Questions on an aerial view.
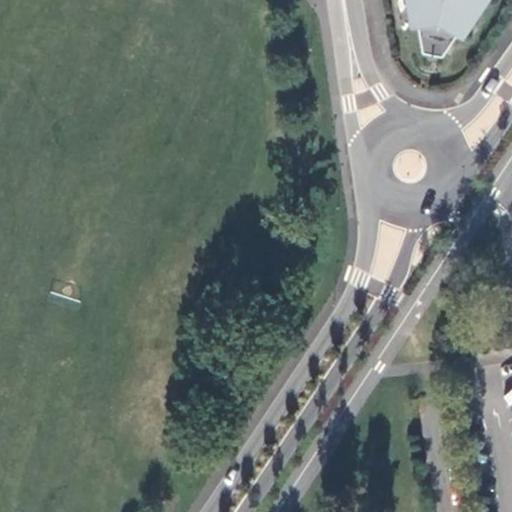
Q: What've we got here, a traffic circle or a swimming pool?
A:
traffic circle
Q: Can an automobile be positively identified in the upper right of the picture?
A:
Yes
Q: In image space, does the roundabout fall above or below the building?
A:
below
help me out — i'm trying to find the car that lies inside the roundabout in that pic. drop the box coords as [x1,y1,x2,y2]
[421,192,436,214]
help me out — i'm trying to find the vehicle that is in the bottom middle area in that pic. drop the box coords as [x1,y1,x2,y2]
[223,466,240,487]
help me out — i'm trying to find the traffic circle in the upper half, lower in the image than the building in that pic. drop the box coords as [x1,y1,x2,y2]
[345,96,486,237]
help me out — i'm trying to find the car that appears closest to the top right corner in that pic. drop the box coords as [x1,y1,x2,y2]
[482,74,502,96]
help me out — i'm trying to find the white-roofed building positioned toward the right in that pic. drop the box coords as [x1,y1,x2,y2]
[398,0,488,58]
